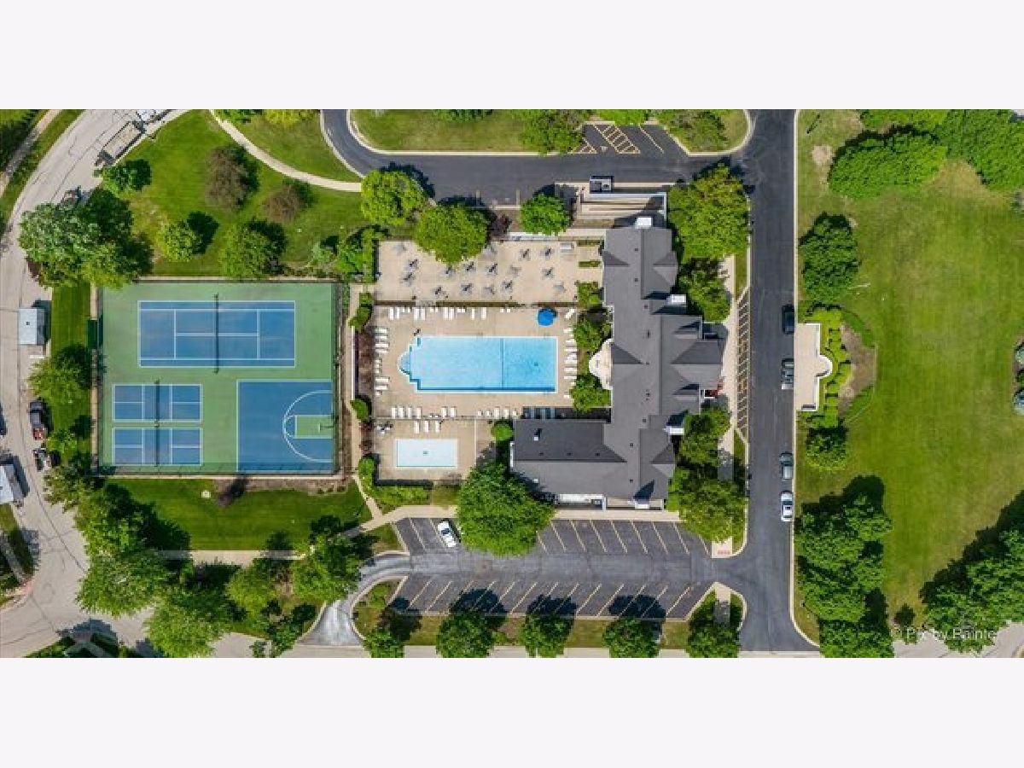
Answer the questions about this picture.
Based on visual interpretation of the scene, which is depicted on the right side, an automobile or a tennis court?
automobile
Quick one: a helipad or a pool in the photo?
pool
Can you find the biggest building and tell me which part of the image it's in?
center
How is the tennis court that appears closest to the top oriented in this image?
from side to side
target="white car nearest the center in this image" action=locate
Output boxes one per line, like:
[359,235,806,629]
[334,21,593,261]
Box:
[437,519,459,550]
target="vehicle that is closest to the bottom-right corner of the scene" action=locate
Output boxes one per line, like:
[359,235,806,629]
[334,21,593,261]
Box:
[779,491,794,522]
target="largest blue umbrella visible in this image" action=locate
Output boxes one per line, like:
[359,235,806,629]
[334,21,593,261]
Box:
[537,308,556,326]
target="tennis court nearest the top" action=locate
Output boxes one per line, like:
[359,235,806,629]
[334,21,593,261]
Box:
[138,293,296,373]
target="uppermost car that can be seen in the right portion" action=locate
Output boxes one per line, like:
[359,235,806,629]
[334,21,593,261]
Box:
[780,306,796,334]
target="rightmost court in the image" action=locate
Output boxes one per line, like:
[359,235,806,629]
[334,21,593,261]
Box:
[237,381,332,472]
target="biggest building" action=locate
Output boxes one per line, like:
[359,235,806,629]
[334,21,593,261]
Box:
[513,217,725,509]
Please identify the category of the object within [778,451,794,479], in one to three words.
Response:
car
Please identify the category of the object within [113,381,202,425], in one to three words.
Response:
sports court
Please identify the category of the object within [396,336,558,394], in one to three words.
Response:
swimming pool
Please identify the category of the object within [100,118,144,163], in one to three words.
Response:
trailer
